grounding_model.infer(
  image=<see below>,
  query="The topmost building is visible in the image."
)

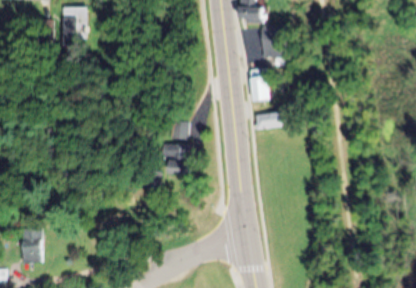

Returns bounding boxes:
[238,0,268,24]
